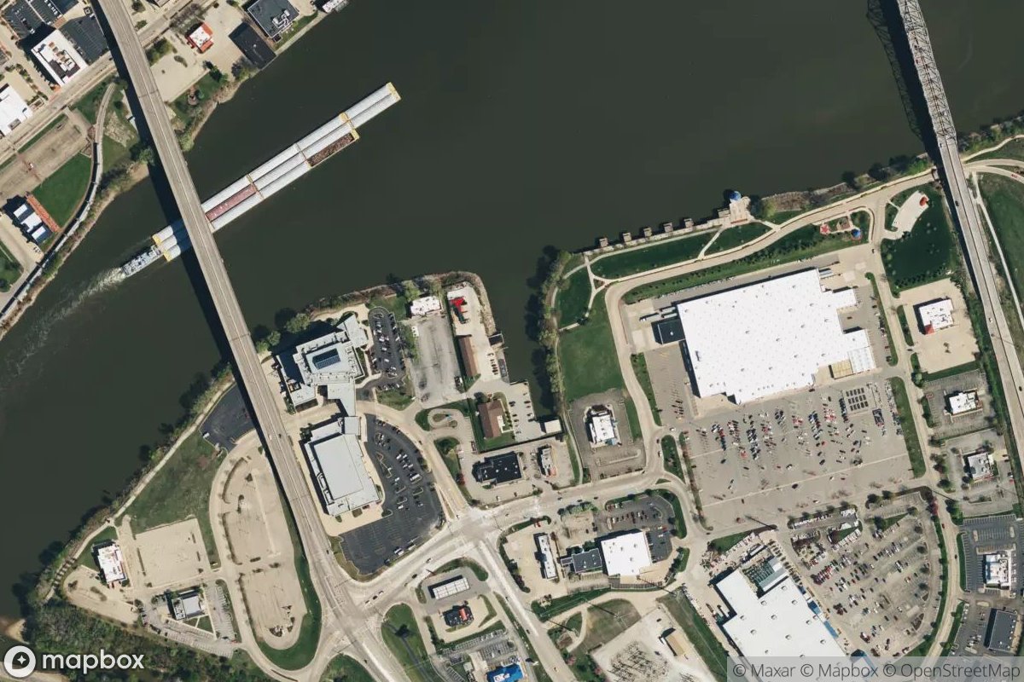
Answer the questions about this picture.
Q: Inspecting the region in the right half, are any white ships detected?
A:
No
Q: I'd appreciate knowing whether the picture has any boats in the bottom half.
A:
No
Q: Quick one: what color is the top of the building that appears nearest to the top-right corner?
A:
white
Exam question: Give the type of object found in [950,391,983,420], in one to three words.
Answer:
building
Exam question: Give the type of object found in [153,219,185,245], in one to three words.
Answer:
ship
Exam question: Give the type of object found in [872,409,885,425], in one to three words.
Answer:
vehicle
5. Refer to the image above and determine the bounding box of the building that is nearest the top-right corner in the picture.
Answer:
[920,299,955,334]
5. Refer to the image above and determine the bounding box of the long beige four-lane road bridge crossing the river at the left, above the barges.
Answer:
[98,0,334,567]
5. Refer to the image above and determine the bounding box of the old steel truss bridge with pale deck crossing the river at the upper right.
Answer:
[899,0,1024,454]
